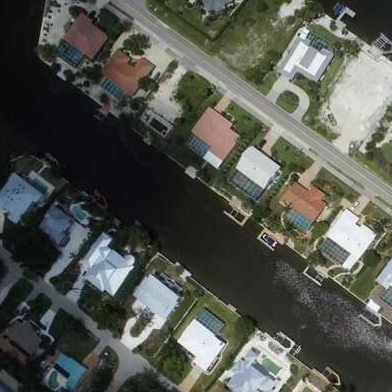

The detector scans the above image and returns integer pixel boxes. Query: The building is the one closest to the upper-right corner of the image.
[278,28,335,82]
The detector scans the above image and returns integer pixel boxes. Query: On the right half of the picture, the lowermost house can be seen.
[224,349,276,392]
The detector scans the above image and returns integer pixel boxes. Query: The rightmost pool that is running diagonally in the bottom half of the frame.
[321,238,349,265]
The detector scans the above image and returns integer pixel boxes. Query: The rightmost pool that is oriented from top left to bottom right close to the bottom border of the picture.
[262,356,282,376]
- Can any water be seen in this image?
Yes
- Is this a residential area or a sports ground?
residential area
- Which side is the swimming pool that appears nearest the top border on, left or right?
left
